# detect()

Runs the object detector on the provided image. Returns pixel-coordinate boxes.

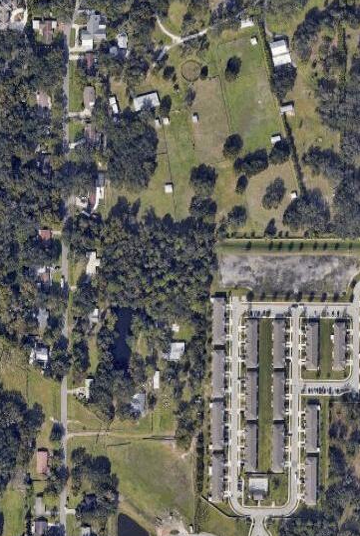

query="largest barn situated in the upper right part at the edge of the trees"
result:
[269,43,294,68]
